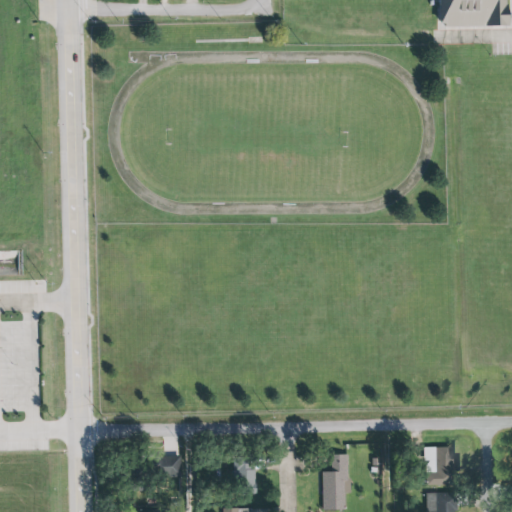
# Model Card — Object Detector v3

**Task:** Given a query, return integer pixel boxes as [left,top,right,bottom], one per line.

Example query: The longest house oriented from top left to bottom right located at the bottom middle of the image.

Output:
[234,463,258,494]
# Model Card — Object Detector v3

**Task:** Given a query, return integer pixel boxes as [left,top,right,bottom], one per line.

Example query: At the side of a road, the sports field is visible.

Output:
[121,64,422,202]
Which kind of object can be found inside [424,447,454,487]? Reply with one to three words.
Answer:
house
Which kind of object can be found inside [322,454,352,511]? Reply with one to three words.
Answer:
house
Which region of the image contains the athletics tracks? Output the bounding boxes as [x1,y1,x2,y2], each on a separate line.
[108,51,435,214]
